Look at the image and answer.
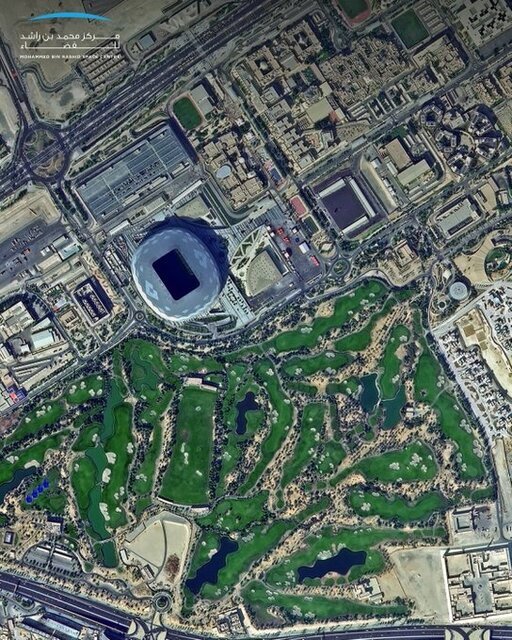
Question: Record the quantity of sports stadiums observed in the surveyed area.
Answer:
1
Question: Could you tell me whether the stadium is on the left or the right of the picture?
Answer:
left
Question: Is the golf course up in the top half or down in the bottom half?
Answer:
bottom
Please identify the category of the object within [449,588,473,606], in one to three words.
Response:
house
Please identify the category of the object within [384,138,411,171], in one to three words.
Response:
building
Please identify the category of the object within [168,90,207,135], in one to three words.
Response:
sports field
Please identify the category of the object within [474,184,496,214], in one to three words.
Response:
building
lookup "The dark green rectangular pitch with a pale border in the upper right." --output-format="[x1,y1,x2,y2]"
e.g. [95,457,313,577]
[389,7,431,51]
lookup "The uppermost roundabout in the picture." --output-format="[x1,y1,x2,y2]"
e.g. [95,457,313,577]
[19,127,66,180]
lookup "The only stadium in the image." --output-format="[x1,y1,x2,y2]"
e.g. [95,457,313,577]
[131,230,223,322]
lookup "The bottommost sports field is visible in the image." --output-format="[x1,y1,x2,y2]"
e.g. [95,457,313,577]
[153,251,198,299]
